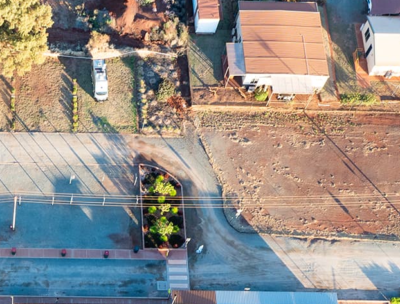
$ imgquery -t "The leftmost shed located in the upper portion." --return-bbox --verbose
[193,0,220,35]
